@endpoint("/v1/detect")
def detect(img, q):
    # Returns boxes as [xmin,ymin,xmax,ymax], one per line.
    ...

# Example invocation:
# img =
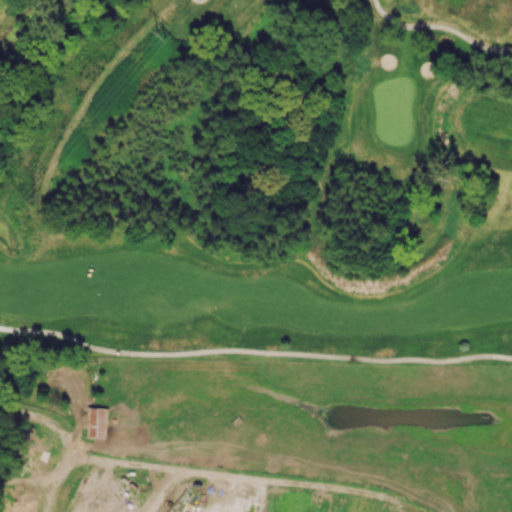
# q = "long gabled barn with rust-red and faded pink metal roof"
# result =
[87,408,108,442]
